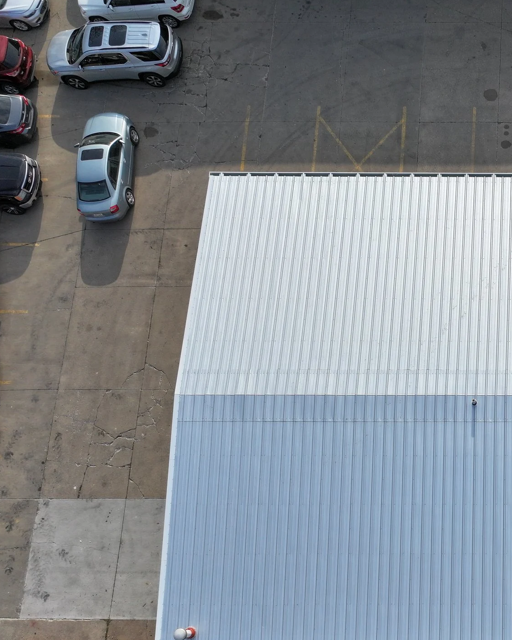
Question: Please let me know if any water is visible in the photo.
No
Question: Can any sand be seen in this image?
No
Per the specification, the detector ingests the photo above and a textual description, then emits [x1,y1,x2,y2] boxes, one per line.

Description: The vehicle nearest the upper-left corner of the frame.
[0,0,50,32]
